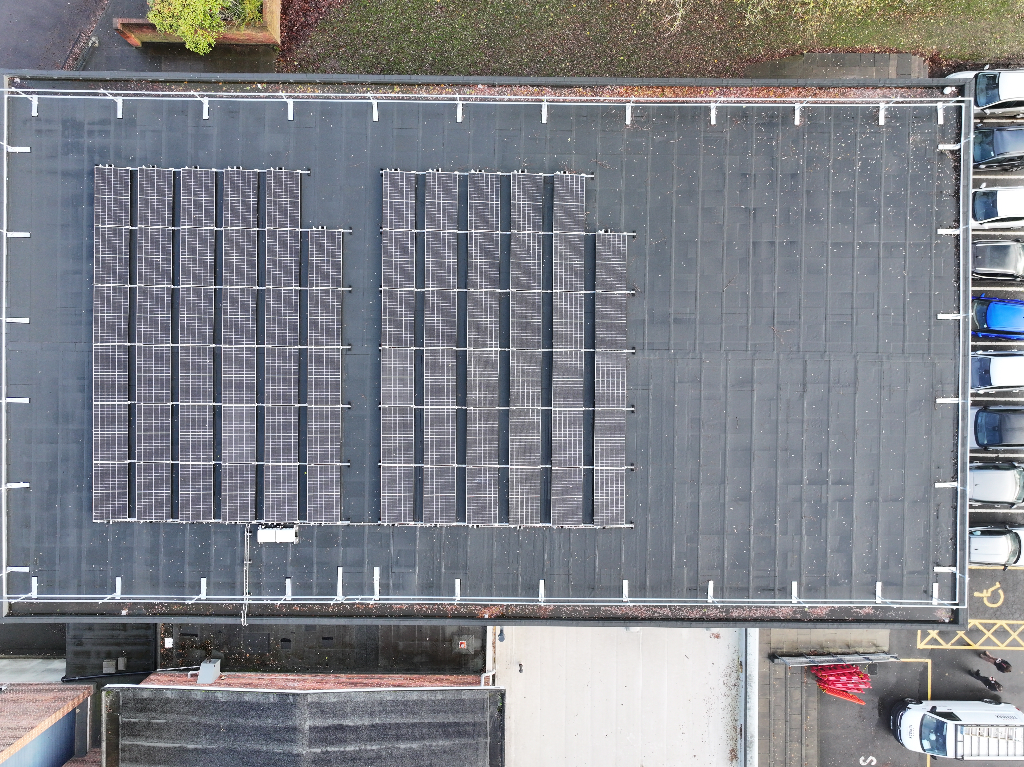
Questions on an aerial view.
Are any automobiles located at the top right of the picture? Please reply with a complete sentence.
Yes, I can see an automobile at the top right of the picture.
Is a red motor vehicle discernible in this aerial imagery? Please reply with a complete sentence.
No, the scene contains no red motor vehicle.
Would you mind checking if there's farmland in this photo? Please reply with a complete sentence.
No, no farmland is visible.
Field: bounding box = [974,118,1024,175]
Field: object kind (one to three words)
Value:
car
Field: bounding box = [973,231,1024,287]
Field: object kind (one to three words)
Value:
car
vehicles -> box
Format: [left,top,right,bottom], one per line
[973,179,1024,234]
[973,231,1024,287]
[971,345,1024,399]
[969,522,1024,573]
[974,118,1024,175]
[940,61,1024,121]
[971,401,1024,455]
[970,458,1024,513]
[889,696,1024,763]
[972,288,1024,341]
